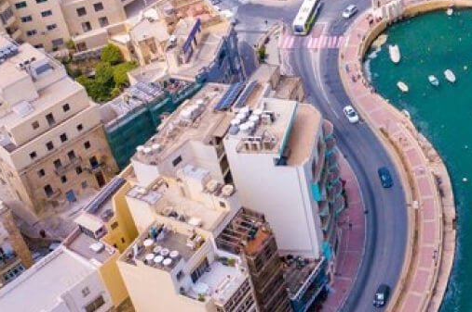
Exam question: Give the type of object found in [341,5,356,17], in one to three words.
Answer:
vehicle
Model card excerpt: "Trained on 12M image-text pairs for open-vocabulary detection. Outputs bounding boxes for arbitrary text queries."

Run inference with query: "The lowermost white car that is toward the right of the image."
[344,105,357,121]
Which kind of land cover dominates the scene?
buildings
